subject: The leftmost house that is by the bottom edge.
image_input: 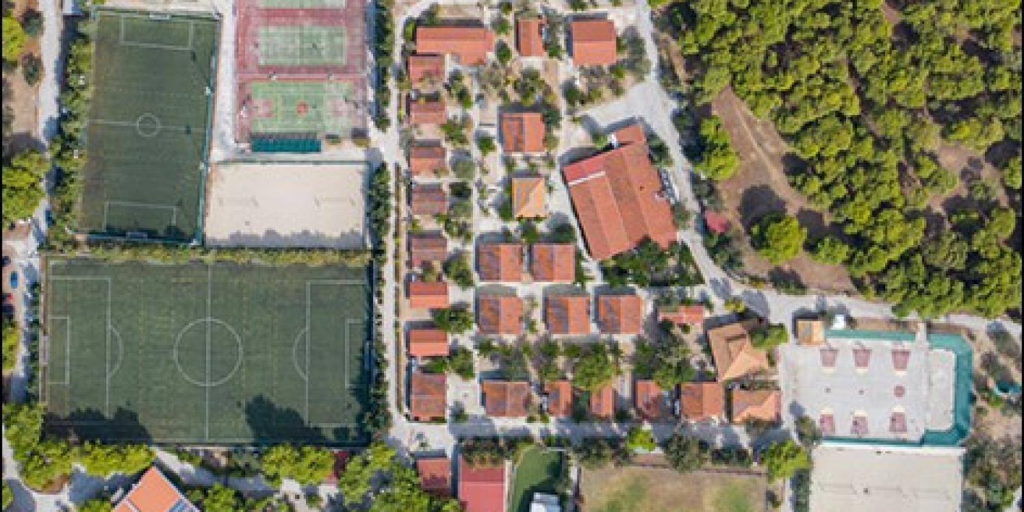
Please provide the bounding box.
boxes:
[110,464,207,512]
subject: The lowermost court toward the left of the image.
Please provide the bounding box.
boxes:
[205,161,365,248]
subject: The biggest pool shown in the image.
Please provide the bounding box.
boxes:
[994,380,1011,396]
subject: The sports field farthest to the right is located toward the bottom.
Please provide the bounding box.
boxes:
[580,468,766,512]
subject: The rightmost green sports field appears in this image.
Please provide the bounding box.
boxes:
[510,446,569,512]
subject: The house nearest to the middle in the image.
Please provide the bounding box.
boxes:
[479,244,522,282]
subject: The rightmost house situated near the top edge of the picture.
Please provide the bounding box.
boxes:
[572,22,617,66]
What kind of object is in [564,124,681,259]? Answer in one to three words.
building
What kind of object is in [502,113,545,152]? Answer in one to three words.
house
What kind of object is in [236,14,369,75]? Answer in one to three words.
tennis court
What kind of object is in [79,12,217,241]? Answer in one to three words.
soccer field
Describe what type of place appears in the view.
sports ground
